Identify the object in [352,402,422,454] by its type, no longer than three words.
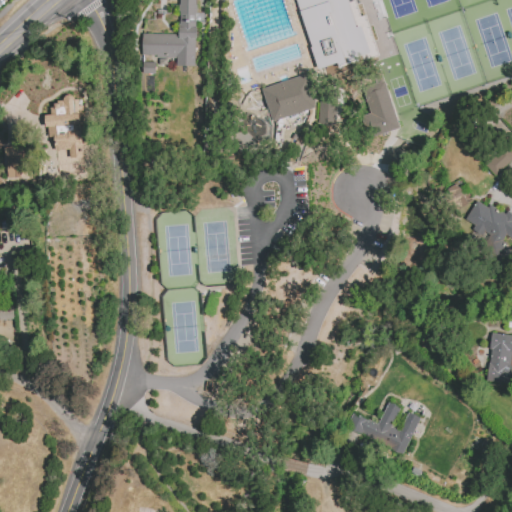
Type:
house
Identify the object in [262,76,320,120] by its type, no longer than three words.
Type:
building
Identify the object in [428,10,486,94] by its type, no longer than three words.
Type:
tennis court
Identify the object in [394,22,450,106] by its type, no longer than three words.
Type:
tennis court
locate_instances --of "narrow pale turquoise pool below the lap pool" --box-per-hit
[252,44,302,73]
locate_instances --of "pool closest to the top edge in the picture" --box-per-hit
[234,0,295,51]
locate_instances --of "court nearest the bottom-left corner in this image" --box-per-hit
[162,288,205,366]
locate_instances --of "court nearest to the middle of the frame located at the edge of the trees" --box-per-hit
[196,208,240,284]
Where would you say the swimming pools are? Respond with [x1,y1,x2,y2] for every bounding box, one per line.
[234,0,295,51]
[252,44,302,73]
